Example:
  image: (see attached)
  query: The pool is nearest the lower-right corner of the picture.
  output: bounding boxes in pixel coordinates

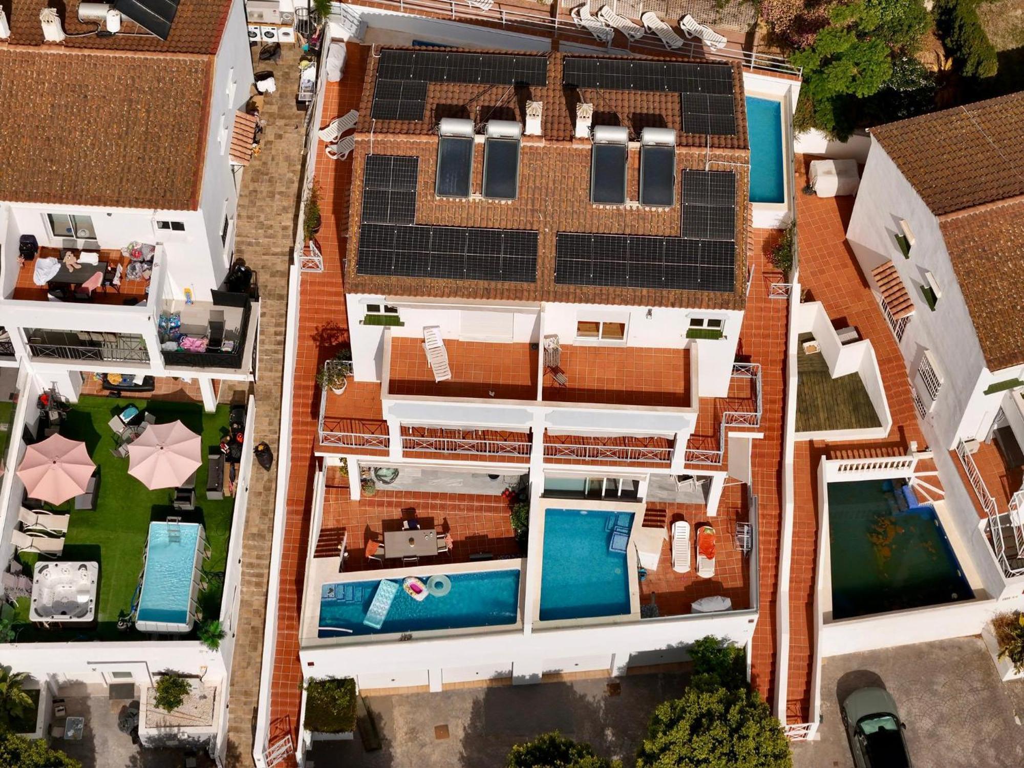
[824,486,1005,661]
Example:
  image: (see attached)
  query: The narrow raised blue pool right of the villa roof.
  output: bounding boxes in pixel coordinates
[750,95,791,216]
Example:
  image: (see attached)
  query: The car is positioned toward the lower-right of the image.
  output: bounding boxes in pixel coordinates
[843,682,918,768]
